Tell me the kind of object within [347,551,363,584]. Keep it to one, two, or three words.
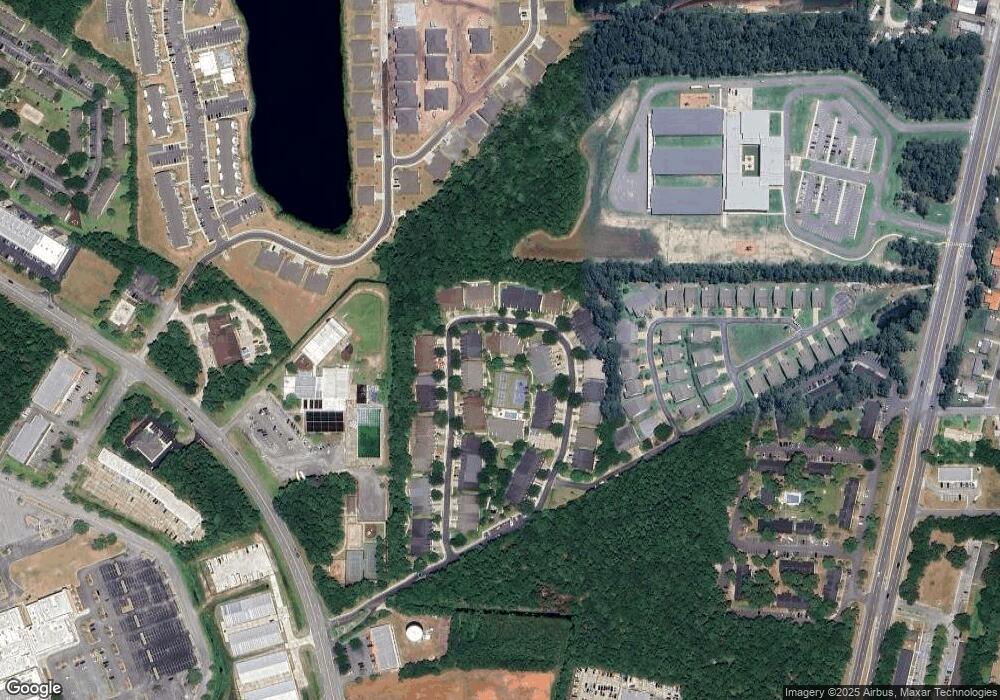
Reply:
tennis court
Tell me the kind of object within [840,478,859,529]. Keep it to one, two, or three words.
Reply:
building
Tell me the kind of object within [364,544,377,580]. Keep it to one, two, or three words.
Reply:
tennis court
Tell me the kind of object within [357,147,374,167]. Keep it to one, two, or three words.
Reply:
house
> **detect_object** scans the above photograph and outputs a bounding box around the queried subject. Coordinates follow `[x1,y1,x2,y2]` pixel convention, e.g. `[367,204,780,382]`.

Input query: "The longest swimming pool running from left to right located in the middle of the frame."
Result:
[492,407,520,420]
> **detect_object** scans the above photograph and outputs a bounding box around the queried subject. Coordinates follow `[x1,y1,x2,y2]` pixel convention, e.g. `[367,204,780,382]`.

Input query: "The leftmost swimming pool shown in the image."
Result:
[218,49,232,69]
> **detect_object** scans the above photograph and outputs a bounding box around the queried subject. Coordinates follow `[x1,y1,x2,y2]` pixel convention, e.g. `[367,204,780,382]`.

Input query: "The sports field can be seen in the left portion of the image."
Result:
[343,292,383,351]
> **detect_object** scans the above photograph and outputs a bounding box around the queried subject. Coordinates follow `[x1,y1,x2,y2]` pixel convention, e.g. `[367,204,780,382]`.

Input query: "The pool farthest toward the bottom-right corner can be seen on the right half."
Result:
[784,492,802,505]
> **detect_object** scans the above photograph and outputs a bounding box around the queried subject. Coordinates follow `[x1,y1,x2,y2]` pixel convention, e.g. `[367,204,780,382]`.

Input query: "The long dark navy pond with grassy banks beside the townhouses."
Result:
[233,0,353,230]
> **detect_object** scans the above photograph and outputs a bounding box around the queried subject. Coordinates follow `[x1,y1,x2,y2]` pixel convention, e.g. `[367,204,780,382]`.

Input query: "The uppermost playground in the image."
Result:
[680,93,710,108]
